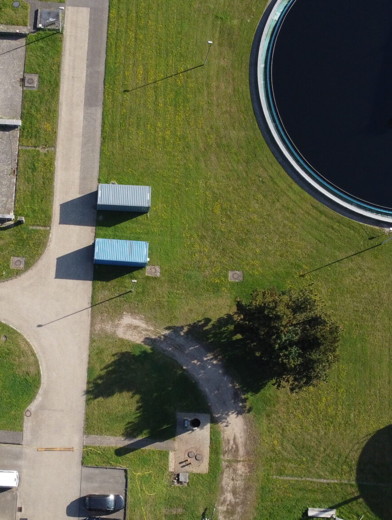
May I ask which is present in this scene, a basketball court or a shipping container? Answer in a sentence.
Visible in the photo is a shipping container.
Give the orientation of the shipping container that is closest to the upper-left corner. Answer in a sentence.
The shipping container that is closest to the upper-left corner runs from left to right in the image.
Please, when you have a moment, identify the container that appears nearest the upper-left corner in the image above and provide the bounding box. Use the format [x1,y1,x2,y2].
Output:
[97,184,151,213]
